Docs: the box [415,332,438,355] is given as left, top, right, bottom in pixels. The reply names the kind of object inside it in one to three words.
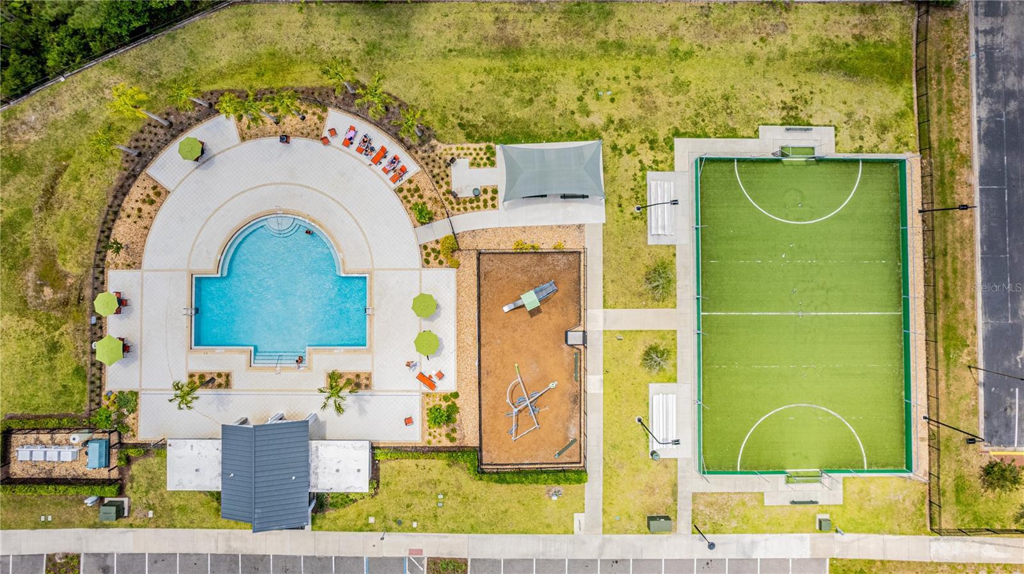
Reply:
umbrella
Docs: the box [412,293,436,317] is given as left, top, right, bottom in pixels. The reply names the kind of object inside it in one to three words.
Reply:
umbrella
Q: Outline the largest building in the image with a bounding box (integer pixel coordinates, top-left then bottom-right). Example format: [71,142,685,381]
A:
[166,411,374,533]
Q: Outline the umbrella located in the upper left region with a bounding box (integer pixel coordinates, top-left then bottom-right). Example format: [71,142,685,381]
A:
[179,137,206,159]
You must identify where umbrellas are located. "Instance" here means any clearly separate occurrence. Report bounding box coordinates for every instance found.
[94,292,118,315]
[412,293,436,317]
[97,335,127,365]
[415,332,438,355]
[179,137,206,159]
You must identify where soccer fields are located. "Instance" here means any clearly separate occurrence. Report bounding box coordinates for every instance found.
[694,144,930,489]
